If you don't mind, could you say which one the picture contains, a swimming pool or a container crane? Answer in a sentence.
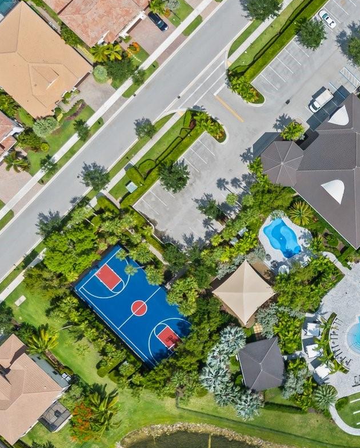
Visible in the photo is a swimming pool.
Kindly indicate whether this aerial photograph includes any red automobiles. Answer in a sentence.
No, this view has no red automobile in it.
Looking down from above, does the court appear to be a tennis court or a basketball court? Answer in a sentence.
Looking closely, the court is a basketball court.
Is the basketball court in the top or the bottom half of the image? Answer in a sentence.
The basketball court sits in the bottom half of the picture.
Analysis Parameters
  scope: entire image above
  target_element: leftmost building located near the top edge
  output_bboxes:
[0,0,94,121]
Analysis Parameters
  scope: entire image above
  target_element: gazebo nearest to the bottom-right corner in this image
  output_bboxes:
[238,337,286,392]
